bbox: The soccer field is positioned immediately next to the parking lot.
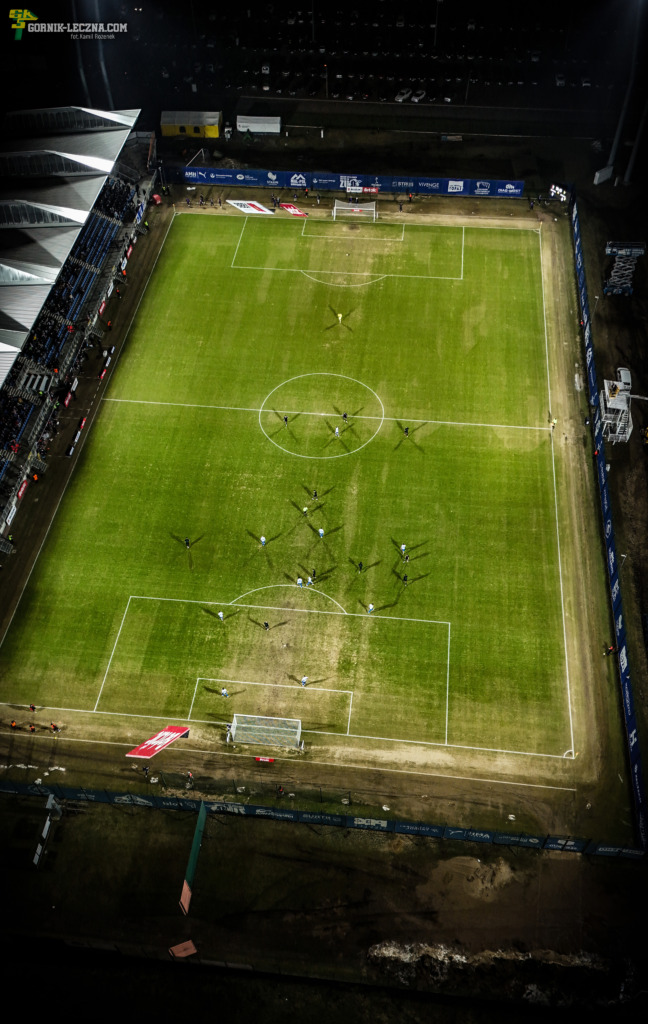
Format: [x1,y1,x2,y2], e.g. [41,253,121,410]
[0,212,576,760]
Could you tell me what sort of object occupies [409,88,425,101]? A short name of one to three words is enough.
vehicle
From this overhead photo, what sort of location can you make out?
sports ground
